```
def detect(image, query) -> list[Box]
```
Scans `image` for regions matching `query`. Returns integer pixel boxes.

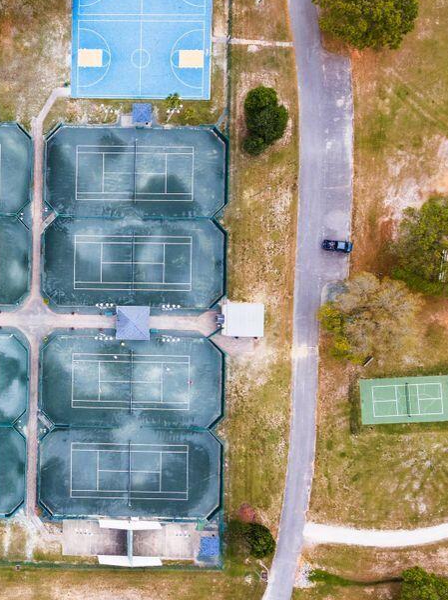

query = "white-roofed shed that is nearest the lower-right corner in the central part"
[220,302,265,338]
